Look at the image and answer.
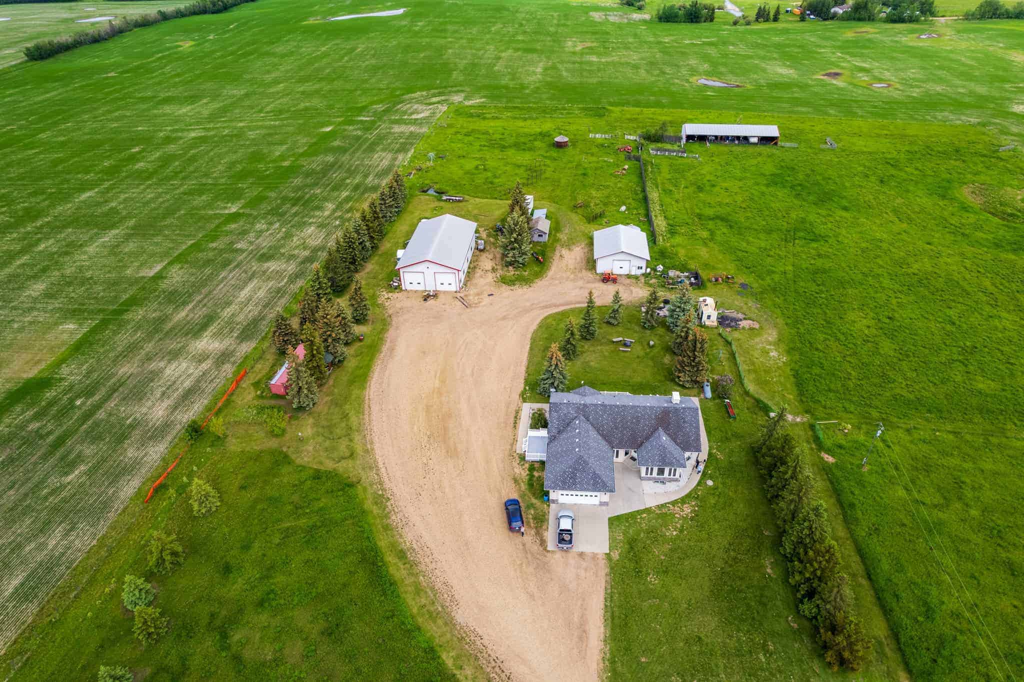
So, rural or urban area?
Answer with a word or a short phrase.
rural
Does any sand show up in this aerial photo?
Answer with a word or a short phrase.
No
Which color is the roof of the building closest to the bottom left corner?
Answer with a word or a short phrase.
red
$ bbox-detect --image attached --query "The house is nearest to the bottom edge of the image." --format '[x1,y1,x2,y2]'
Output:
[516,387,702,507]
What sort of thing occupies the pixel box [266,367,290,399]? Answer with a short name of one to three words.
building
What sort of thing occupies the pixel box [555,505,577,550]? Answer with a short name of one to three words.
truck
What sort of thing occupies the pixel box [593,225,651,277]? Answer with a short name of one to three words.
building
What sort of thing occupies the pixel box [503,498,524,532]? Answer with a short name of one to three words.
car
